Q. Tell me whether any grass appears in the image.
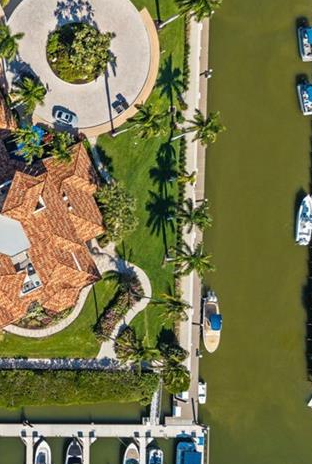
Yes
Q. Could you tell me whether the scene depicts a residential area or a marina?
marina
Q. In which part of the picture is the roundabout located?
top left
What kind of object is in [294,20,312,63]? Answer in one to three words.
boat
